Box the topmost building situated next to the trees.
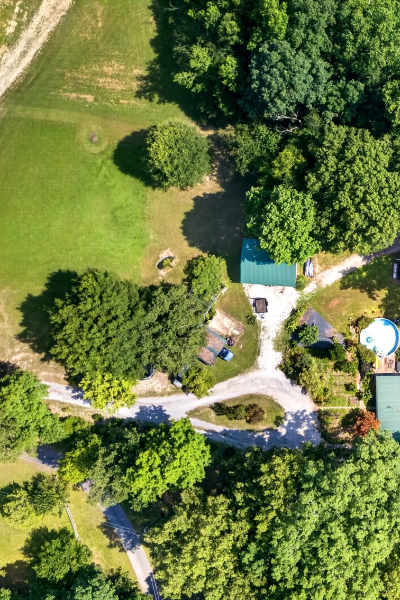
[239,236,298,287]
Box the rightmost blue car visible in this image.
[216,347,231,362]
